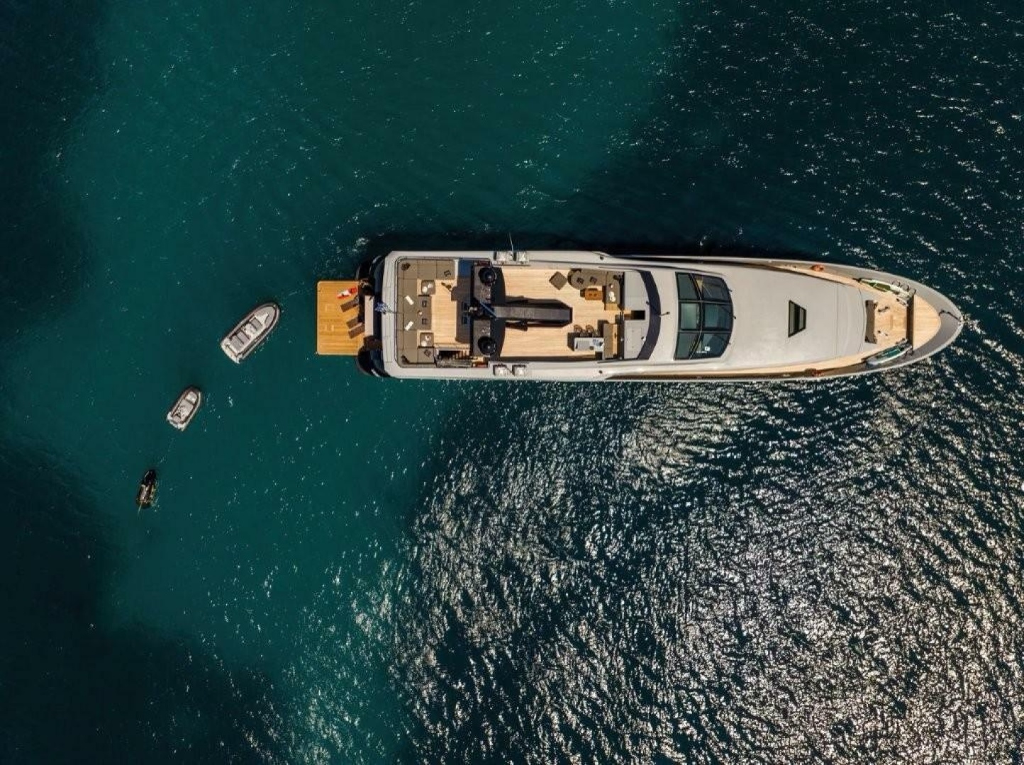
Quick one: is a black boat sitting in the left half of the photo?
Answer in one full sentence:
Yes, a black boat is visible in the left half of the photo.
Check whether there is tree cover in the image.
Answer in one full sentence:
No, the scene doesn't show any tree cover.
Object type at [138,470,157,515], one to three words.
boat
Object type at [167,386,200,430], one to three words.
boat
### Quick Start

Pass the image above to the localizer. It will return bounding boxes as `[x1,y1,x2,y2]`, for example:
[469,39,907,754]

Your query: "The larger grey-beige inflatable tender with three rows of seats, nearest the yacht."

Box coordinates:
[222,302,281,362]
